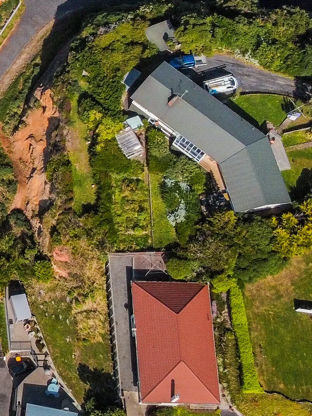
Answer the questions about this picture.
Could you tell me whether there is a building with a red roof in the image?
Yes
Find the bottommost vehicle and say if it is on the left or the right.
right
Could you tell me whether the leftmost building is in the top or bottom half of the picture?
bottom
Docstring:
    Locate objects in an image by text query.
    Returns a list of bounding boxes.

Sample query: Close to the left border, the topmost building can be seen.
[8,293,32,322]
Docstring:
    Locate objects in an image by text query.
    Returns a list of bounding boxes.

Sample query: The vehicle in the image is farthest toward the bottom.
[200,74,237,94]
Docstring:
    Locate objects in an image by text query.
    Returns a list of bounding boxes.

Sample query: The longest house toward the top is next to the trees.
[130,61,293,212]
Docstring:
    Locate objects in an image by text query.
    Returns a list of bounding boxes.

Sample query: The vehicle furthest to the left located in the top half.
[167,54,208,70]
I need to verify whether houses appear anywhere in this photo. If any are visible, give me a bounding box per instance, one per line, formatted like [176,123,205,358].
[130,61,293,212]
[125,282,220,405]
[19,403,78,416]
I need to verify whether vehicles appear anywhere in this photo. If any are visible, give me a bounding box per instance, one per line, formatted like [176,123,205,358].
[167,54,208,70]
[200,74,237,94]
